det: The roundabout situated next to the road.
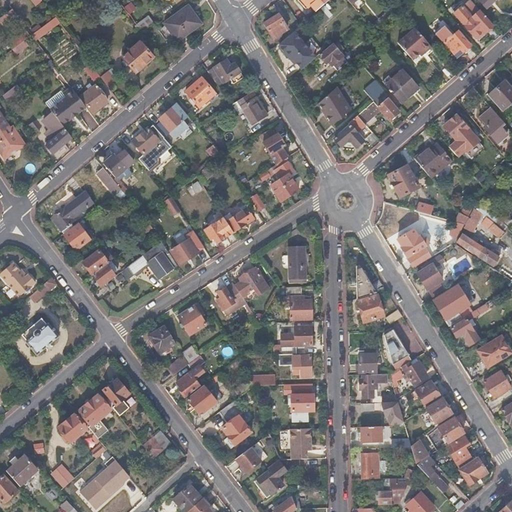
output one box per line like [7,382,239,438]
[318,173,373,228]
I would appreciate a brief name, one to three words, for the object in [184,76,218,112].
house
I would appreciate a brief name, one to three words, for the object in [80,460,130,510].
building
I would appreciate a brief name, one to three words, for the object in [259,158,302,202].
house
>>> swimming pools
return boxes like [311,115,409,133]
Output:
[24,163,38,175]
[454,260,470,274]
[222,346,234,358]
